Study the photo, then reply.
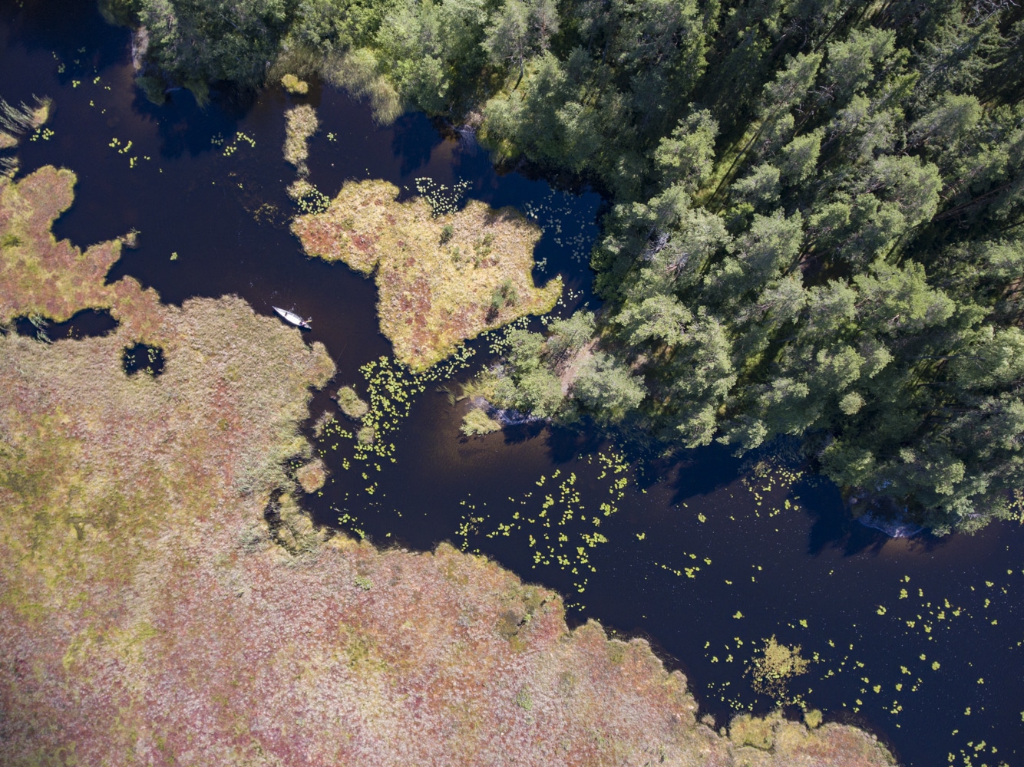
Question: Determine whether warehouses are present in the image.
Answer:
No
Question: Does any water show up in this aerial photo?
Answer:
Yes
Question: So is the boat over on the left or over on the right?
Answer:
left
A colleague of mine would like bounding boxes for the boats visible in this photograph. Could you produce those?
[271,306,311,329]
